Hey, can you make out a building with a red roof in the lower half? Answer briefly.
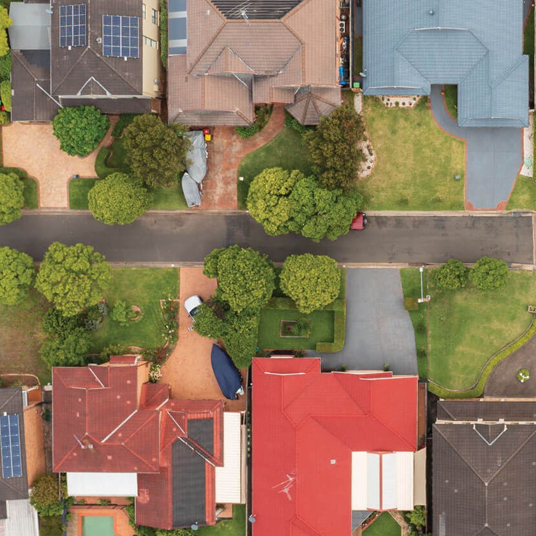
Yes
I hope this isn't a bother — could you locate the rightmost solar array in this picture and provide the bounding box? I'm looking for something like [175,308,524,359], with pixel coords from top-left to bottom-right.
[103,15,140,58]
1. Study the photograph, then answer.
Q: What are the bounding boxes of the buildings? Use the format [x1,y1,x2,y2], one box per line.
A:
[358,0,529,128]
[245,357,429,536]
[432,400,536,536]
[167,0,343,126]
[51,355,251,534]
[10,0,162,124]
